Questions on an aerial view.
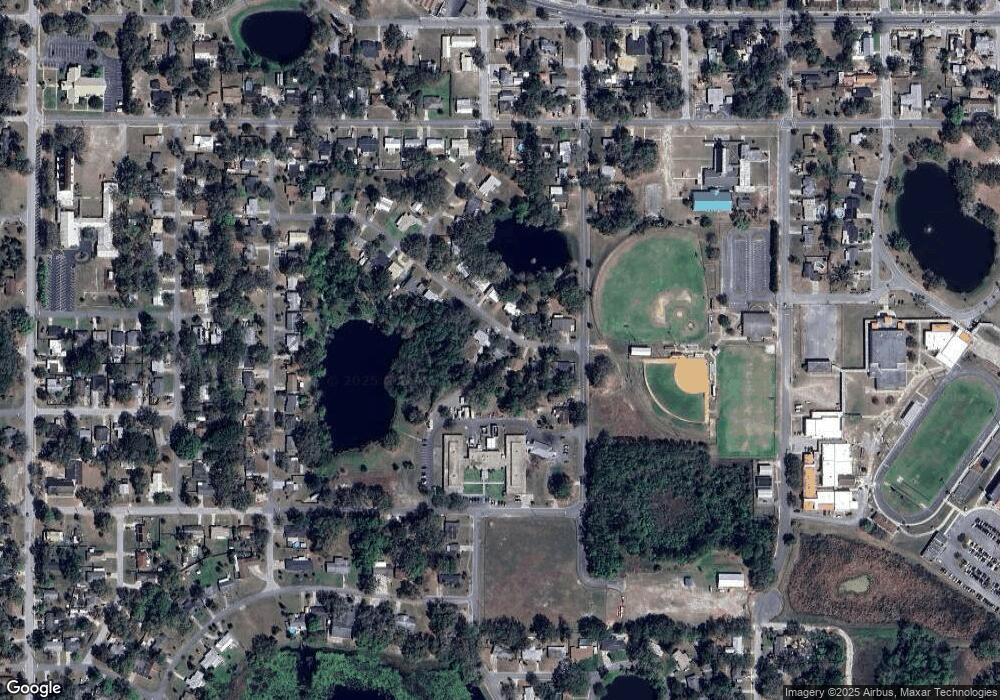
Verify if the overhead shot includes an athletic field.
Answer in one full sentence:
Yes, there's an athletic field down there.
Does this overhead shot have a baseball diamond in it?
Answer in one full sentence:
Yes, the frame does contain a baseball diamond.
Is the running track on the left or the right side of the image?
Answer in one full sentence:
The running track appears in the right half of the scene.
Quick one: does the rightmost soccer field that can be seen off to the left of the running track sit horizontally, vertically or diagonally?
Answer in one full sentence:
The rightmost soccer field that can be seen off to the left of the running track has been laid out vertically relative to the frame.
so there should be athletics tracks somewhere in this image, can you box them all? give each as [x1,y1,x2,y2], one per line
[871,369,1000,525]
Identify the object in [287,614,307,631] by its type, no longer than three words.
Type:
house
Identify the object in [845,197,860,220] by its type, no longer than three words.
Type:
house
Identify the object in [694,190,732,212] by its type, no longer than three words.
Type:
building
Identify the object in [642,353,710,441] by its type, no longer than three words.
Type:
baseball field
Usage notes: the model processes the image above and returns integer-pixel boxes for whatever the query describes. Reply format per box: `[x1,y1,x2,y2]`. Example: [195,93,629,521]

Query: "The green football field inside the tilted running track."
[880,377,997,517]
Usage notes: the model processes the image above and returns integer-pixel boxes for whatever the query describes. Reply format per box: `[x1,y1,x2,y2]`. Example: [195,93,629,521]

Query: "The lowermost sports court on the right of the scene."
[804,306,837,361]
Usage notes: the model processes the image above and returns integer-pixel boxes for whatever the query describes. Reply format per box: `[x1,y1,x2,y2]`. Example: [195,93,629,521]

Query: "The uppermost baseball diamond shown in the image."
[594,229,704,346]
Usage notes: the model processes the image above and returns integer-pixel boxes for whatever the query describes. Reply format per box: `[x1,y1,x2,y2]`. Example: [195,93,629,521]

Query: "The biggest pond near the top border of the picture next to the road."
[240,11,312,65]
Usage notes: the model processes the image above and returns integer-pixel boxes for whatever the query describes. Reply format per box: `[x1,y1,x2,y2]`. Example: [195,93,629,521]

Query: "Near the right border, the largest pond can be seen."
[896,161,996,293]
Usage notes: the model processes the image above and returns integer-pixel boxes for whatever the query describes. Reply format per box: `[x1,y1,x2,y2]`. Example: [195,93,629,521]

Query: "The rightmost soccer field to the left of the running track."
[718,345,776,459]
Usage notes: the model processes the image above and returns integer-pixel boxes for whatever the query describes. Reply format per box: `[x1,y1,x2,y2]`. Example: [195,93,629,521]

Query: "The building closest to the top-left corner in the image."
[60,64,105,103]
